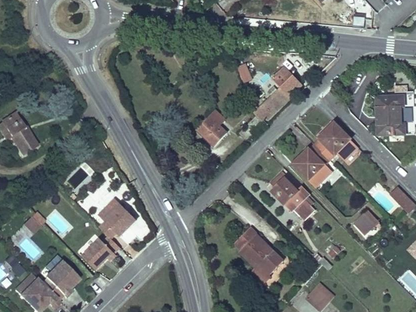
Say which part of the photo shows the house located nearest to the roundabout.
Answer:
left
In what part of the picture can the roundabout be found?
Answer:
top left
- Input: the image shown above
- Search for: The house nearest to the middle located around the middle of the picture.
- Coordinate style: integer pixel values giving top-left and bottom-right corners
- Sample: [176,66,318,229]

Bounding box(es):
[198,110,230,148]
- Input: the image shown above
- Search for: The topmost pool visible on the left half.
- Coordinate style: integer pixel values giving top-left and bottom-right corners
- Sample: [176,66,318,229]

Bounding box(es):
[64,165,94,193]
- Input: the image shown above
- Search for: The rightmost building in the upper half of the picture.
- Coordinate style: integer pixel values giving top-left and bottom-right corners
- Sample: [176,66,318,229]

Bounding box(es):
[374,93,416,138]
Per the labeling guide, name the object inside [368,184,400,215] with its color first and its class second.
white swimming pool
